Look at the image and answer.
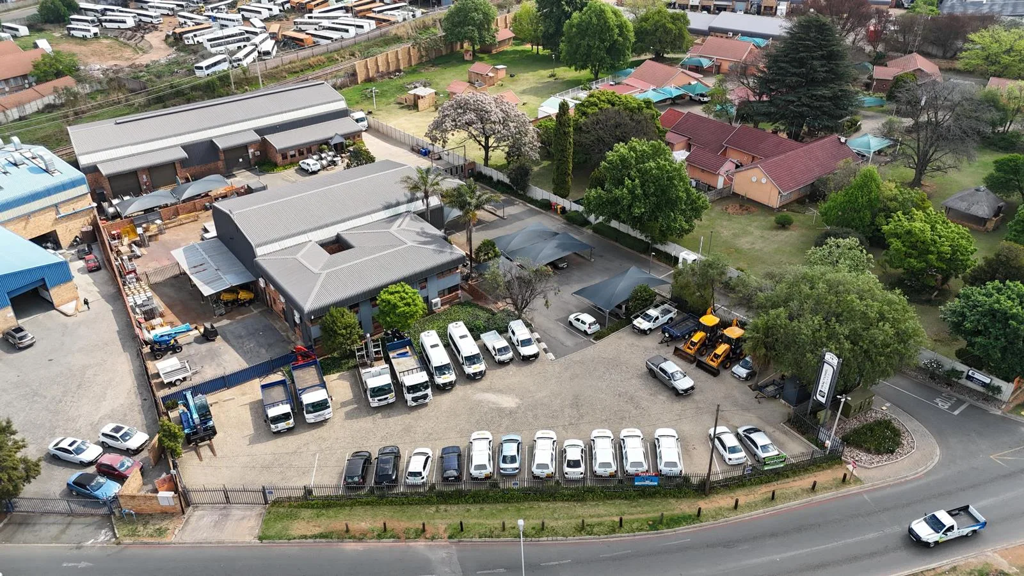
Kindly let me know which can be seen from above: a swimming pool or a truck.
truck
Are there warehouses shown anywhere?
Yes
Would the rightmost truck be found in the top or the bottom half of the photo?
bottom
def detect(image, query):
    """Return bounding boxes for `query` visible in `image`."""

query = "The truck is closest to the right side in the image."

[909,503,990,548]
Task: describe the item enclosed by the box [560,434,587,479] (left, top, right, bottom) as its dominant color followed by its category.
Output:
white car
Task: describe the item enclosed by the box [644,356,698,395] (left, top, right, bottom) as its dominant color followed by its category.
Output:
gray truck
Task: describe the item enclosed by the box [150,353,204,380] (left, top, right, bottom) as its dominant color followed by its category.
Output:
white trailer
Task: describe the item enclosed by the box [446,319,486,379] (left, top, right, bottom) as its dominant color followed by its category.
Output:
white vehicle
